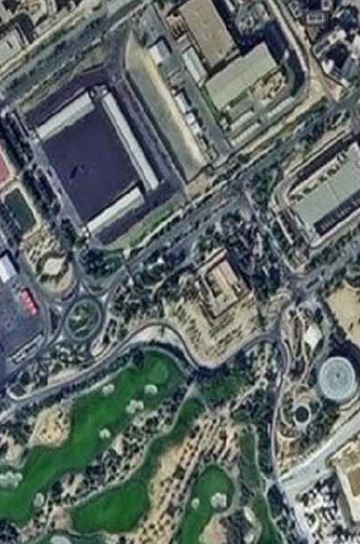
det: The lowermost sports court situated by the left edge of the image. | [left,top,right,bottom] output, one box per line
[2,186,38,233]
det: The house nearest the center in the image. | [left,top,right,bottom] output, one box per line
[198,250,249,315]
